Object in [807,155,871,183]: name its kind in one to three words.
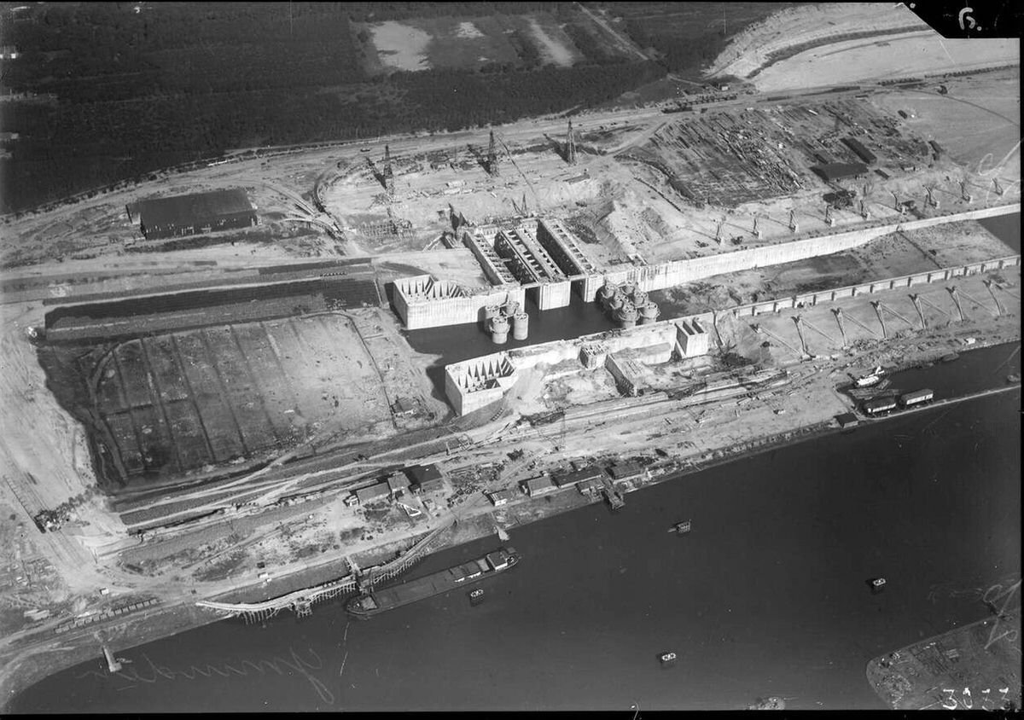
shed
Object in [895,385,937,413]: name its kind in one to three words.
boat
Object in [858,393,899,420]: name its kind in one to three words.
boat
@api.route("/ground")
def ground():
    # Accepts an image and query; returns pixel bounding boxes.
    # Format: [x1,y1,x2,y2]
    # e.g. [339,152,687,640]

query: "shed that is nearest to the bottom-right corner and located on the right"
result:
[831,408,861,429]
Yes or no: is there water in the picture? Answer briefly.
Yes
